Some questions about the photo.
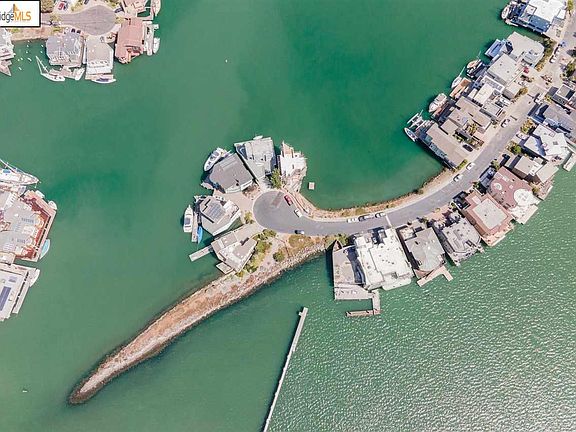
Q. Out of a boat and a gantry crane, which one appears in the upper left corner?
boat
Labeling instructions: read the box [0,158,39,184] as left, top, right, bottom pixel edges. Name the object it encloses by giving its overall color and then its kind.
white boat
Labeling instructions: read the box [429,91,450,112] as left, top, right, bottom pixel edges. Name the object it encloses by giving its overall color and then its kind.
white boat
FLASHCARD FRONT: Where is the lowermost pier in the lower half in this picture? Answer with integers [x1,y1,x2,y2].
[263,307,308,432]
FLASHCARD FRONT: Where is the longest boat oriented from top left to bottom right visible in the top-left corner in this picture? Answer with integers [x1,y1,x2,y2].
[33,53,67,82]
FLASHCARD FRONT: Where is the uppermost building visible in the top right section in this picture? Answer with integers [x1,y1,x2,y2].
[510,0,567,40]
